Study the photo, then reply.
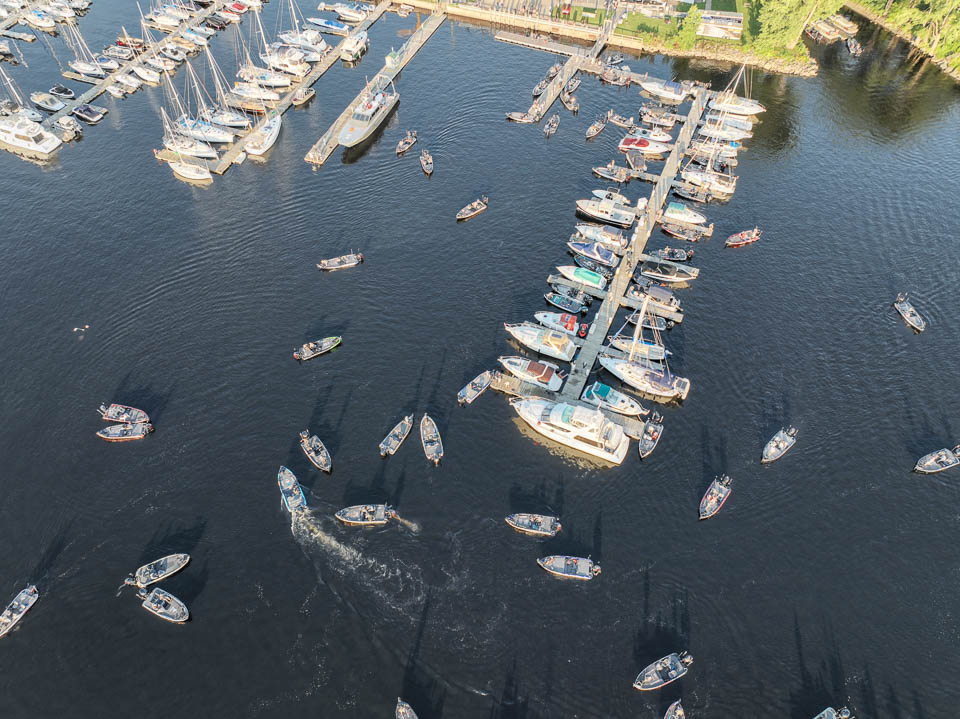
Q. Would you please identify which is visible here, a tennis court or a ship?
ship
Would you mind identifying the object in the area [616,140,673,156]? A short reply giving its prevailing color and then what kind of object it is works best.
white boat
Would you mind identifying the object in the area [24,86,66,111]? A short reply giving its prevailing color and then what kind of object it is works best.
white boat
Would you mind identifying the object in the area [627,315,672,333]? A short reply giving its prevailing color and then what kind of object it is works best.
gray boat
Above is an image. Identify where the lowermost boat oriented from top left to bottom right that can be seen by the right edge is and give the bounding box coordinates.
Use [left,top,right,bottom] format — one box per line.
[891,300,924,332]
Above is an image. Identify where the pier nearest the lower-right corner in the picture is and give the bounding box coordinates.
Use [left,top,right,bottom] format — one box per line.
[490,374,646,440]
